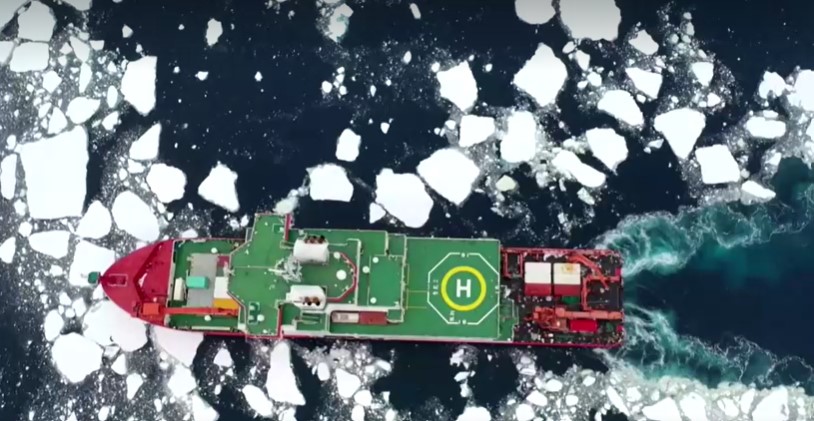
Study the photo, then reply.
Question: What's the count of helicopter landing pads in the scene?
1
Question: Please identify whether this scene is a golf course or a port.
port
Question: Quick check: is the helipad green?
Yes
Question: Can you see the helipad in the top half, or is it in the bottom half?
bottom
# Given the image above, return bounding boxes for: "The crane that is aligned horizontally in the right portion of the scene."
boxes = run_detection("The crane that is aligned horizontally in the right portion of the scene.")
[529,304,621,330]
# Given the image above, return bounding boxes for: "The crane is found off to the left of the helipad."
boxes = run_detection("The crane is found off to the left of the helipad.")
[134,303,240,316]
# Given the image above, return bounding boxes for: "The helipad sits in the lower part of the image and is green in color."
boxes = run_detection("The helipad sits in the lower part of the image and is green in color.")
[402,236,501,347]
